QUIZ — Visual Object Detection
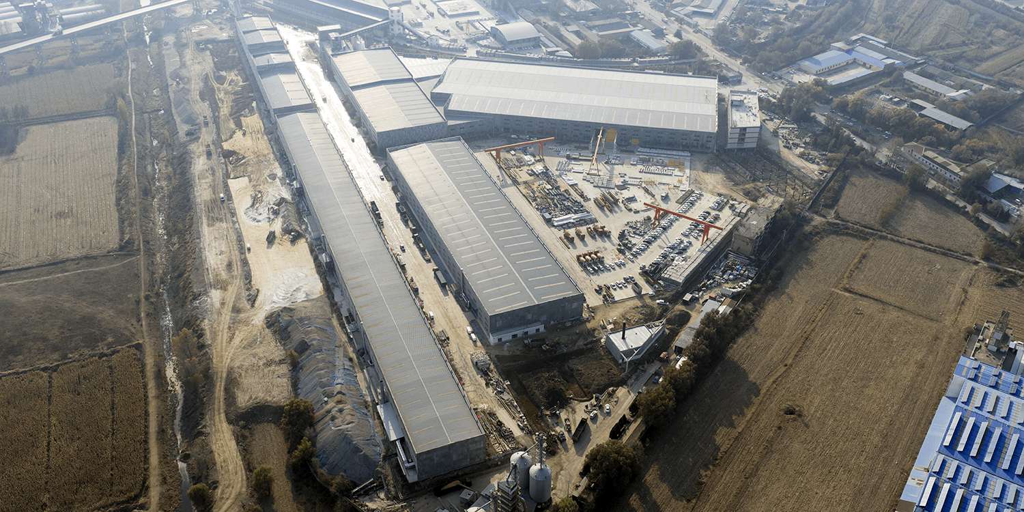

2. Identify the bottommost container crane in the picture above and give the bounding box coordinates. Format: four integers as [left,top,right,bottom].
[644,203,723,240]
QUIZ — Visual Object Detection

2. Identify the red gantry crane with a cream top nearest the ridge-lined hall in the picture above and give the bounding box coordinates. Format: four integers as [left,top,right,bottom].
[484,138,555,168]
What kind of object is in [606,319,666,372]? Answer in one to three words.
building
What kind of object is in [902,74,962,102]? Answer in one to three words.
shed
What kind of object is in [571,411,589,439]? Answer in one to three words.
vehicle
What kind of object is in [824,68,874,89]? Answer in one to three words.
shed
